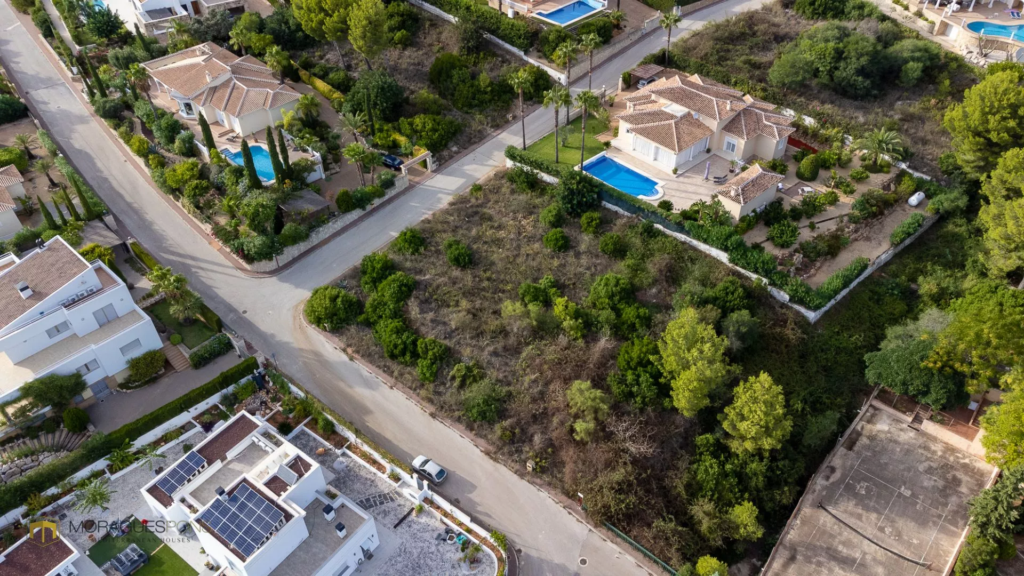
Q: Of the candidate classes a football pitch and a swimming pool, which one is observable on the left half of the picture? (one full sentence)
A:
It is a swimming pool that can be seen on the left half of the picture.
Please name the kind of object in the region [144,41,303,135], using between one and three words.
house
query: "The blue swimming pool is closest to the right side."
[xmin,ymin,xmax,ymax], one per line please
[965,20,1024,43]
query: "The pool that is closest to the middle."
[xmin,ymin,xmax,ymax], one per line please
[579,153,662,199]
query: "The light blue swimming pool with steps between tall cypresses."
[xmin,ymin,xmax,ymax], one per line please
[216,144,271,183]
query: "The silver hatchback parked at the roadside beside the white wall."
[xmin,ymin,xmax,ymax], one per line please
[409,453,450,487]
